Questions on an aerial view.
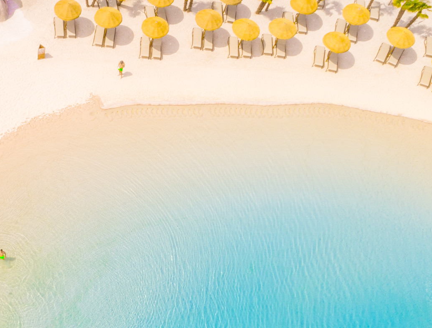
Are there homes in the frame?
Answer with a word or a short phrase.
No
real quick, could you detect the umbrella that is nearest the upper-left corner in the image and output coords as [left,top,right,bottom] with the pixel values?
[53,1,81,30]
